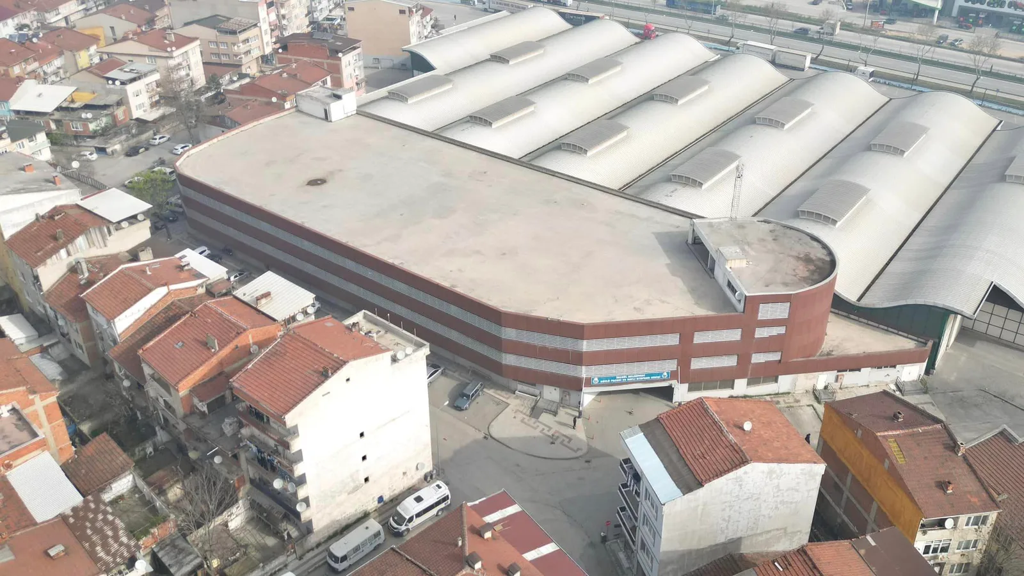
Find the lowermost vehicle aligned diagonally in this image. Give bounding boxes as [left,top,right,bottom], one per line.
[314,517,379,576]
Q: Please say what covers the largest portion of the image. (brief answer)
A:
buildings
